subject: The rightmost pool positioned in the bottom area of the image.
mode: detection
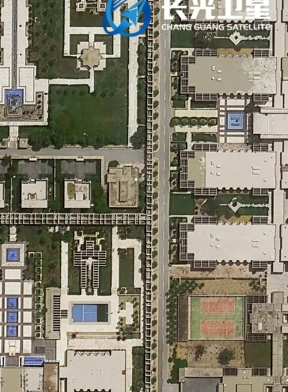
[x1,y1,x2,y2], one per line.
[69,301,111,325]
